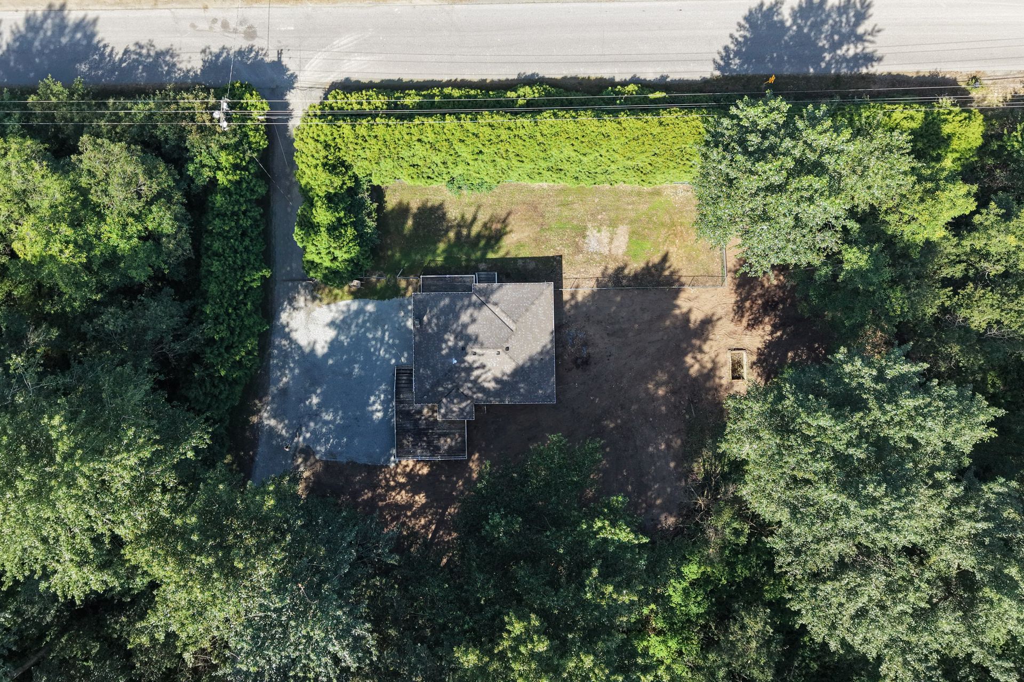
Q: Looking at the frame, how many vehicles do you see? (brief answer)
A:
none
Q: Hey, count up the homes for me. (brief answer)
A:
1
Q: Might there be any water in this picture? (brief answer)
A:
No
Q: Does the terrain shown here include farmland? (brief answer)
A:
No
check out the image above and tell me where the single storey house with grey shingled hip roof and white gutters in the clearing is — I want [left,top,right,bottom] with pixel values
[411,281,556,421]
